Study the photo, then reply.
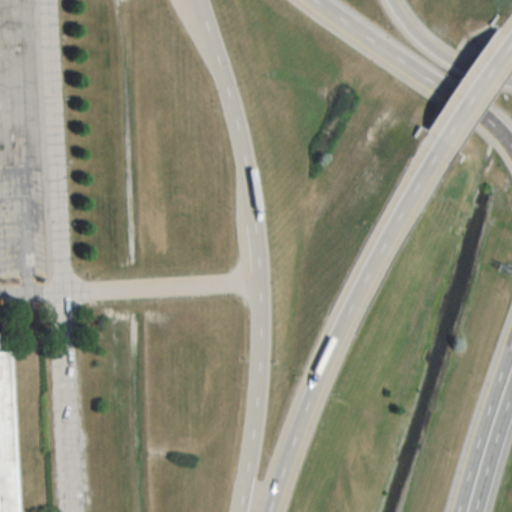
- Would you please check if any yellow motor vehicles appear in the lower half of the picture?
No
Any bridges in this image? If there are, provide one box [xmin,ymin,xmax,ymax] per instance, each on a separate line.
[416,22,512,160]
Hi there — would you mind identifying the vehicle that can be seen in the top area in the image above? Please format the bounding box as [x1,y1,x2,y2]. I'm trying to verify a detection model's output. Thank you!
[252,168,268,224]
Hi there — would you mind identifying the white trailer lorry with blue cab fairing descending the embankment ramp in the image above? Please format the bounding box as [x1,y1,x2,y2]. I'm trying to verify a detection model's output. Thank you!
[310,336,338,392]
